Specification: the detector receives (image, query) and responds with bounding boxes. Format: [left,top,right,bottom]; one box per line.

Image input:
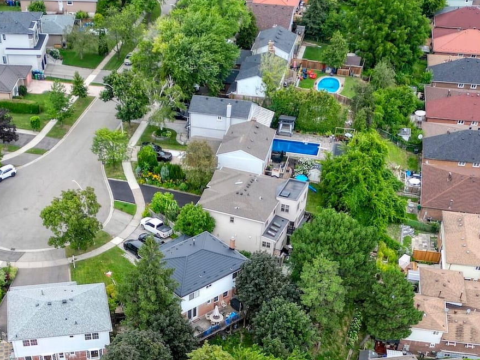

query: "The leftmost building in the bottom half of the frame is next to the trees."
[7,282,113,360]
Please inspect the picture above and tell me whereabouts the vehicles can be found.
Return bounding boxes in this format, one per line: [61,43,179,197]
[140,218,175,239]
[121,241,146,261]
[124,51,134,64]
[141,143,172,160]
[0,164,17,182]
